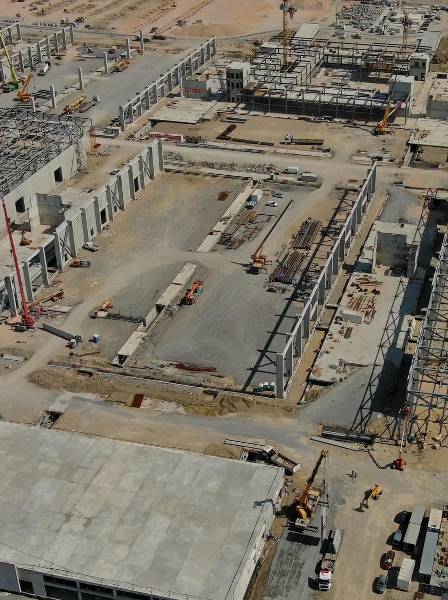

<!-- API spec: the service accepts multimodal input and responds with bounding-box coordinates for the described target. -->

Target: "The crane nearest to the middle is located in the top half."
[245,199,294,271]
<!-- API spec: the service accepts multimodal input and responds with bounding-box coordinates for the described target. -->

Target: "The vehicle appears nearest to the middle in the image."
[183,276,204,302]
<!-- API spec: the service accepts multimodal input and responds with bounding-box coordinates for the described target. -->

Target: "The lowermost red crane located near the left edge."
[3,199,46,333]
